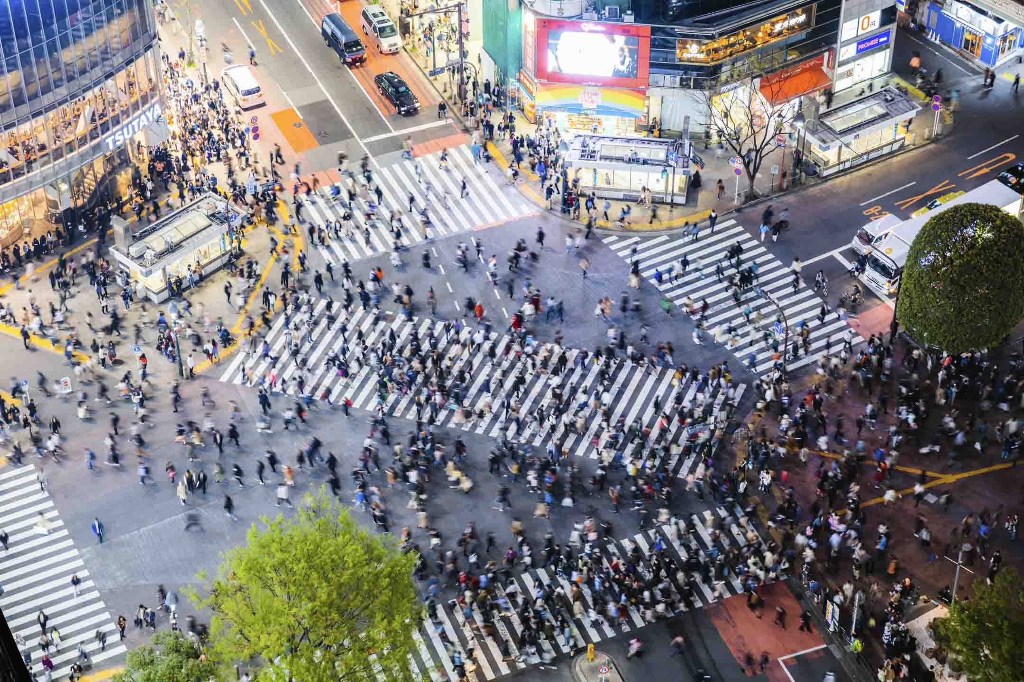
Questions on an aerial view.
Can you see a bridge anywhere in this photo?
No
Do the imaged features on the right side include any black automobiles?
Yes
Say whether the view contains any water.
No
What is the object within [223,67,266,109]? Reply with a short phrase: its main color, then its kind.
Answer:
white vehicle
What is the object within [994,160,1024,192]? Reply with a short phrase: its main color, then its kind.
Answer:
black car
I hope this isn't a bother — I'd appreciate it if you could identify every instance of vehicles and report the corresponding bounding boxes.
[994,160,1024,192]
[223,67,266,109]
[356,0,402,53]
[908,193,967,221]
[319,7,367,67]
[847,262,864,281]
[378,71,422,114]
[856,214,909,257]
